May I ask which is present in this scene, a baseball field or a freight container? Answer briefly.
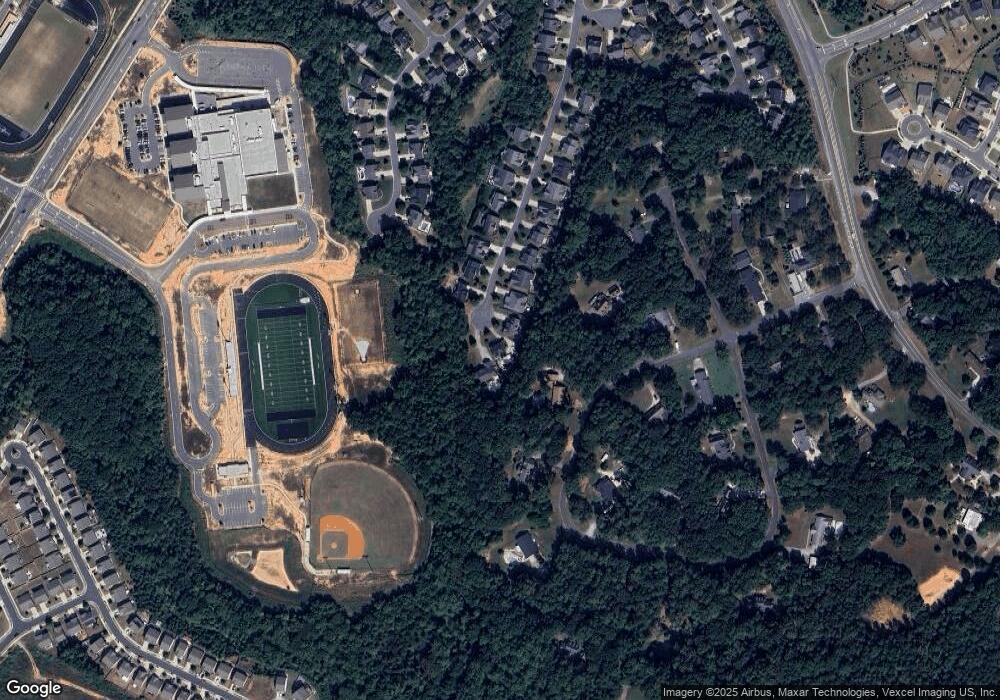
baseball field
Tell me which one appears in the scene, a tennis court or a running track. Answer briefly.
running track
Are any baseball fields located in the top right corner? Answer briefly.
No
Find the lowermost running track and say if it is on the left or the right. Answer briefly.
left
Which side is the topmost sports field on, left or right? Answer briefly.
left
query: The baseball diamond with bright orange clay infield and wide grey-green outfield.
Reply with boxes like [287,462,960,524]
[310,460,416,570]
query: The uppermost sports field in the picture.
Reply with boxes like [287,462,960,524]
[0,0,98,144]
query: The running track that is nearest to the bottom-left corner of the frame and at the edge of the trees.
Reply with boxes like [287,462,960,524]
[233,273,338,453]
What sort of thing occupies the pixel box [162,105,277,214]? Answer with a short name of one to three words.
building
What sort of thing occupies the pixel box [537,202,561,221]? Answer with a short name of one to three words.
house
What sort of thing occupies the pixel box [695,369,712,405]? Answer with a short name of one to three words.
house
